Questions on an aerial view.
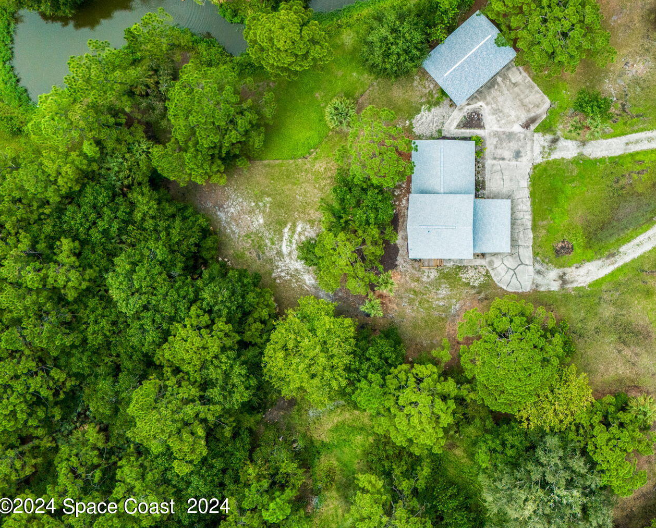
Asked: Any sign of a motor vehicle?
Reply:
No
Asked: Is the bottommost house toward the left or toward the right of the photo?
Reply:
right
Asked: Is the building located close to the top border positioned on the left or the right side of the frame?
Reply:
right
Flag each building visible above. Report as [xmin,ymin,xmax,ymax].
[407,139,511,259]
[422,10,515,105]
